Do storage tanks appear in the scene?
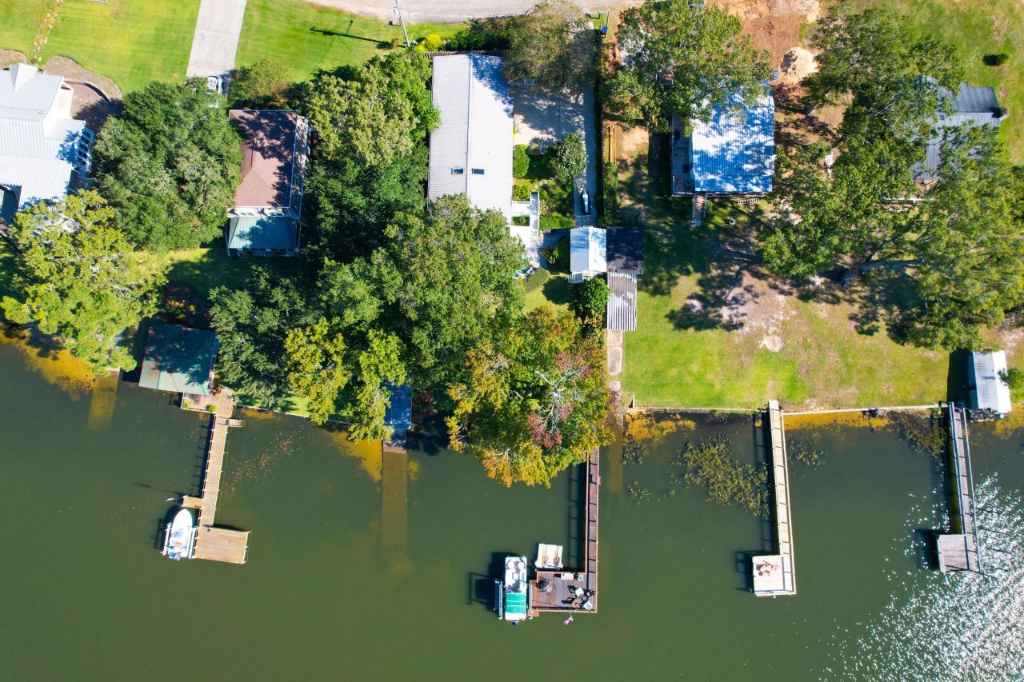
No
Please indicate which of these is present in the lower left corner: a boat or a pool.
boat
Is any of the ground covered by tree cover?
Yes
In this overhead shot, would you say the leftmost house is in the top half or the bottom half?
top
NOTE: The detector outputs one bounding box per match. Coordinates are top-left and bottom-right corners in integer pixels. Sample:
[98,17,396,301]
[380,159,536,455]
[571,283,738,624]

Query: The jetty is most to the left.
[180,386,252,566]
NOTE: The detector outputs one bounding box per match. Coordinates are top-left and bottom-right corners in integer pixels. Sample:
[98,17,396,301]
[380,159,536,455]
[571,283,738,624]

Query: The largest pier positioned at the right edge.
[931,403,985,576]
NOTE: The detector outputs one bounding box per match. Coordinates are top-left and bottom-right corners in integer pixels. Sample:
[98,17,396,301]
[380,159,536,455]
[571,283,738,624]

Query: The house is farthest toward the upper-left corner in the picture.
[0,63,99,217]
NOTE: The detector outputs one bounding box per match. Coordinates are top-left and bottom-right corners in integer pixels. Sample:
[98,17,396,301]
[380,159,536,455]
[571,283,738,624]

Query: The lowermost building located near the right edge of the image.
[964,350,1012,413]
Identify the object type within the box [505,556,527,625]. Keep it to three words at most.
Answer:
boat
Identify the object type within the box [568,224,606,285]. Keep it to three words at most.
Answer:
shed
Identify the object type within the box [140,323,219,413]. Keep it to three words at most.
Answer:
building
